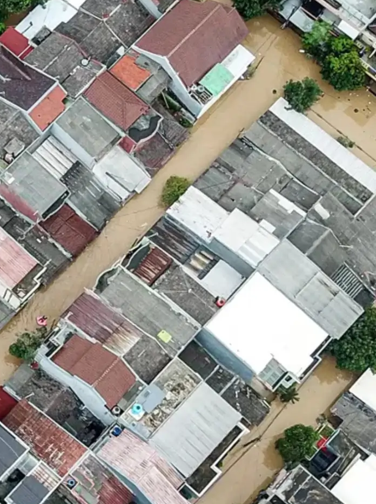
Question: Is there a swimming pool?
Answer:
No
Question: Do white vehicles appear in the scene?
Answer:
No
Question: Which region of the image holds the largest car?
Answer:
bottom right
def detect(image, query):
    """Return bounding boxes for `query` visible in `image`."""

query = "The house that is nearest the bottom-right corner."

[324,449,376,504]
